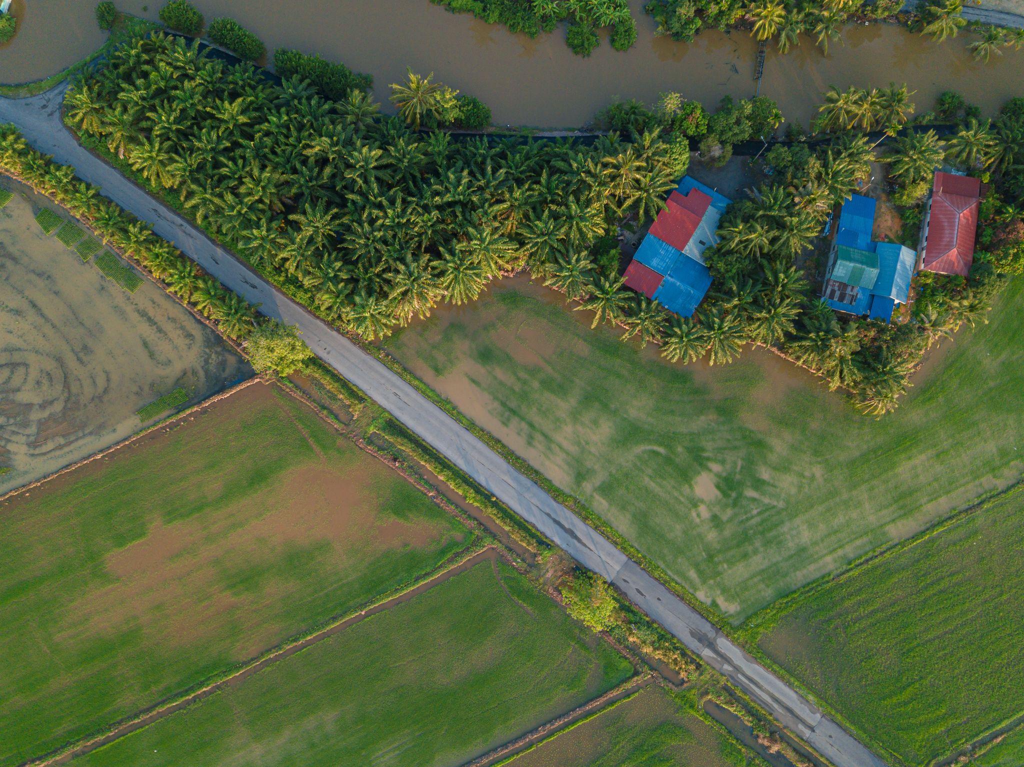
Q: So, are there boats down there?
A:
No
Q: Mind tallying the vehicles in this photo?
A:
zero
